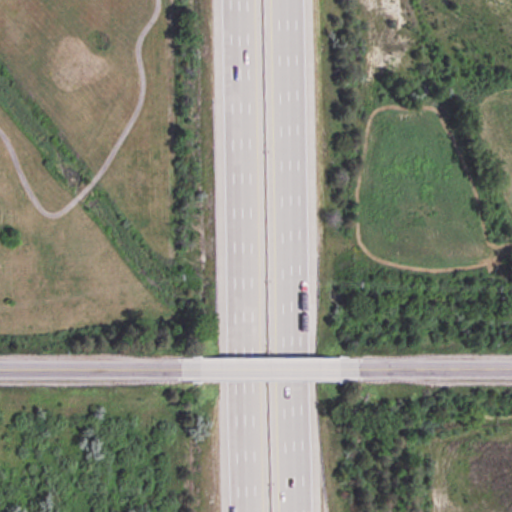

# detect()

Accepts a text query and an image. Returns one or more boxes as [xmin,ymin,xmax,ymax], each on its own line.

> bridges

[184,356,360,384]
